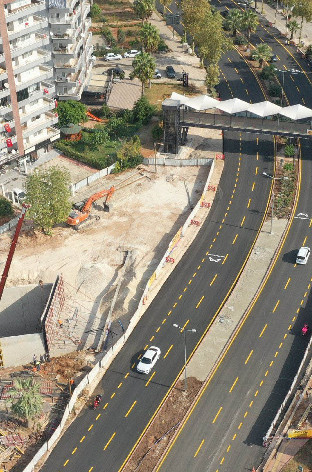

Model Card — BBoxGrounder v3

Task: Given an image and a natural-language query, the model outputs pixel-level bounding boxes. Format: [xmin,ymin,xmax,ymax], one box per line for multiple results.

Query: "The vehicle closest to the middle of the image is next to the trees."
[70,184,111,225]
